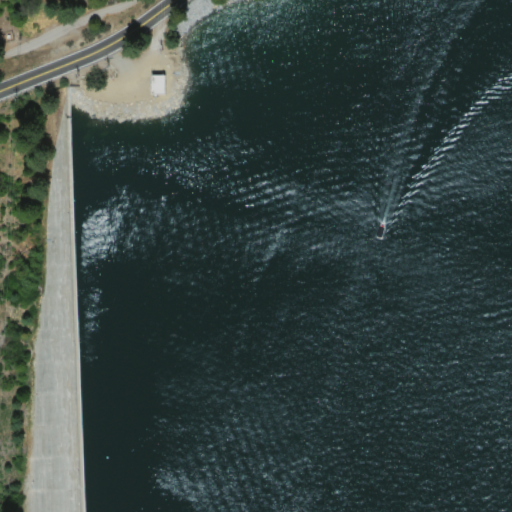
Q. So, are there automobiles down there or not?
No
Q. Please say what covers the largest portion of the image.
water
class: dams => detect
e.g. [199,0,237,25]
[25,84,86,512]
